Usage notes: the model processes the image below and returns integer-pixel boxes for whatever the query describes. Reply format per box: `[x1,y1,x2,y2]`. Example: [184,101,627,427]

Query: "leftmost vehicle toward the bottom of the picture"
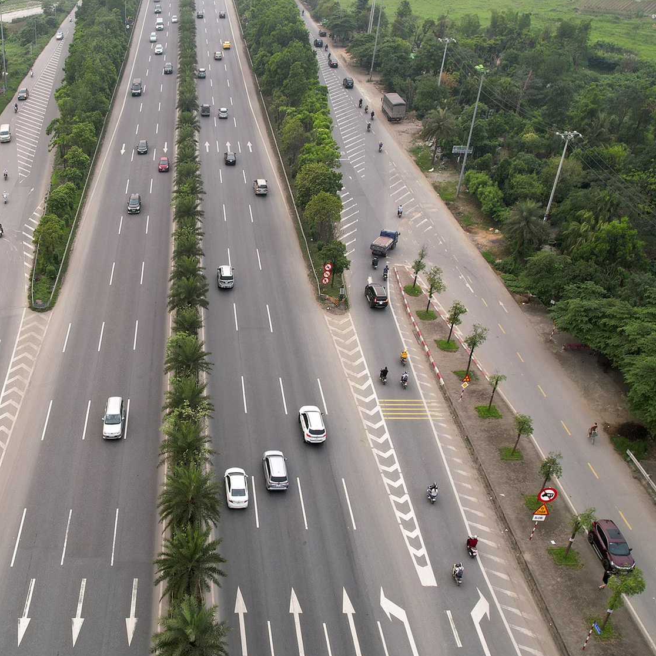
[99,397,126,439]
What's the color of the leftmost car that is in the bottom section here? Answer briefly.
white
